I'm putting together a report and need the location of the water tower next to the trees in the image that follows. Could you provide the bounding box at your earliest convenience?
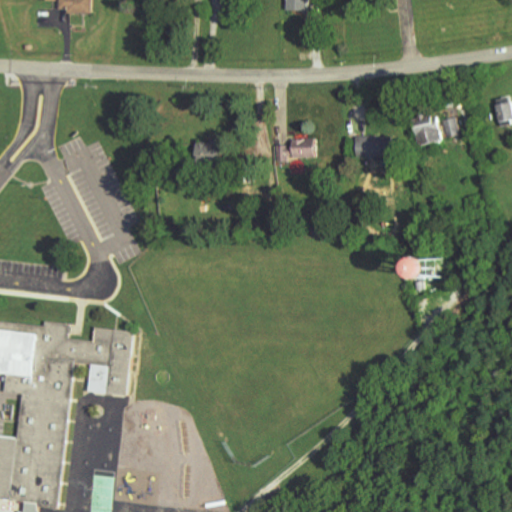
[396,255,444,282]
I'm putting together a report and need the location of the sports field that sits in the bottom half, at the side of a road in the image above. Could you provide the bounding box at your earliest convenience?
[130,242,406,495]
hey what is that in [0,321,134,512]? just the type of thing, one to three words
building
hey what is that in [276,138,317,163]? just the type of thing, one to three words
house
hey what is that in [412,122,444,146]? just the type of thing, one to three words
house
